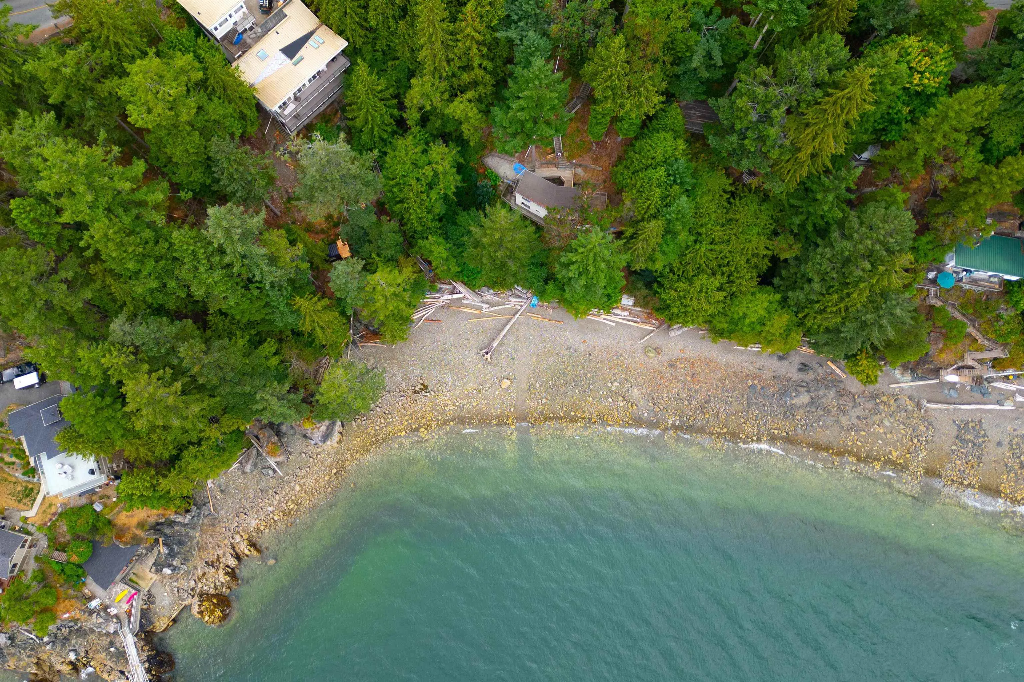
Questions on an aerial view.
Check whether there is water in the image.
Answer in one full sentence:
Yes, there's water in this view.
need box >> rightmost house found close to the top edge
[231,0,351,137]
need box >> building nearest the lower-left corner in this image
[0,526,42,580]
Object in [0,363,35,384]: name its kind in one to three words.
truck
